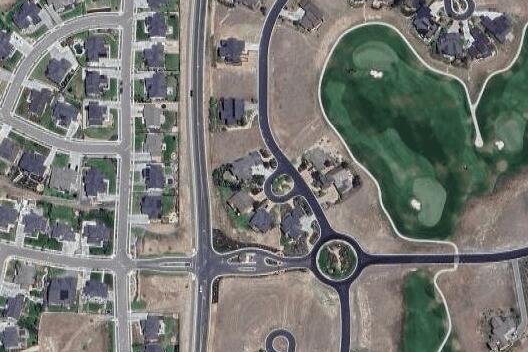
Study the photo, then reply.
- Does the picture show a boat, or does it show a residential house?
residential house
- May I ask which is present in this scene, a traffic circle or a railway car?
traffic circle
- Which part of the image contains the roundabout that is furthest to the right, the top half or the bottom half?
bottom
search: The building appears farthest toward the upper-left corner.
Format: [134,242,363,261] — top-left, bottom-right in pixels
[12,4,41,28]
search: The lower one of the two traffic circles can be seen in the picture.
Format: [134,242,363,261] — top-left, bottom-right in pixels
[308,232,366,289]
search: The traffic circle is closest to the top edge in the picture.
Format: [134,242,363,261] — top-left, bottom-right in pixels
[264,168,300,202]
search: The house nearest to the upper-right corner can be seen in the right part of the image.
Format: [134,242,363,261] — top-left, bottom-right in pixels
[479,17,513,42]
